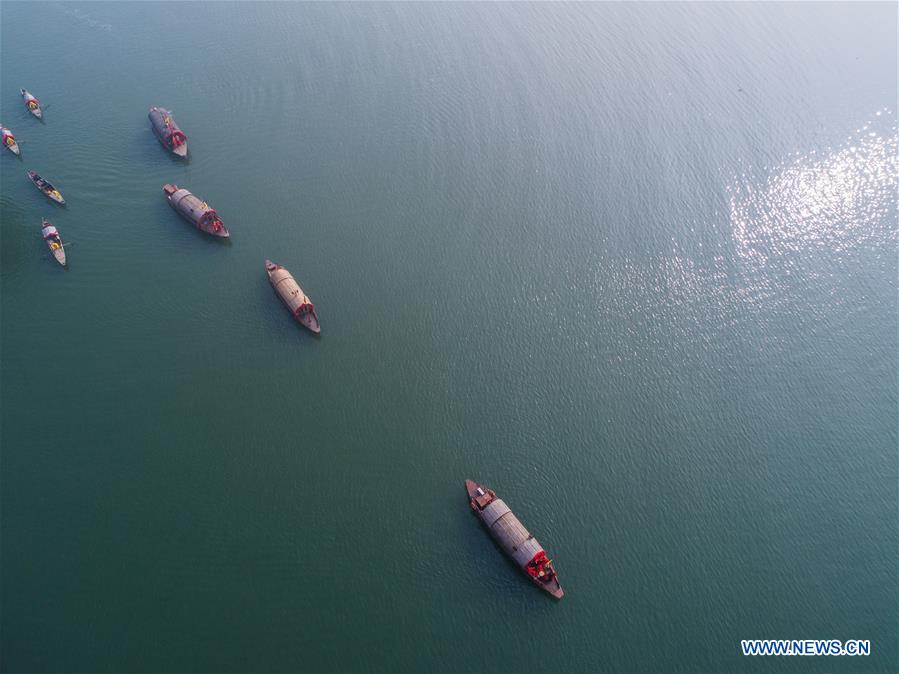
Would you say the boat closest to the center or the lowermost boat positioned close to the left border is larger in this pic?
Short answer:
the boat closest to the center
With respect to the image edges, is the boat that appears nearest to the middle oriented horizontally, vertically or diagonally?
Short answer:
diagonally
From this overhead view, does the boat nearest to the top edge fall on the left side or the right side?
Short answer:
left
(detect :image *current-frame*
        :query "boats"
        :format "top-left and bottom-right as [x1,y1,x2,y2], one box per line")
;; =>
[38,216,79,269]
[464,479,565,600]
[25,170,66,205]
[0,124,31,157]
[161,183,232,243]
[263,262,322,336]
[147,108,190,161]
[18,88,42,119]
